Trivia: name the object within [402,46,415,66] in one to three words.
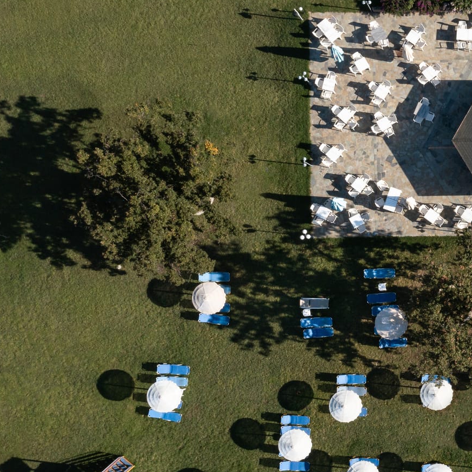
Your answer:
umbrella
